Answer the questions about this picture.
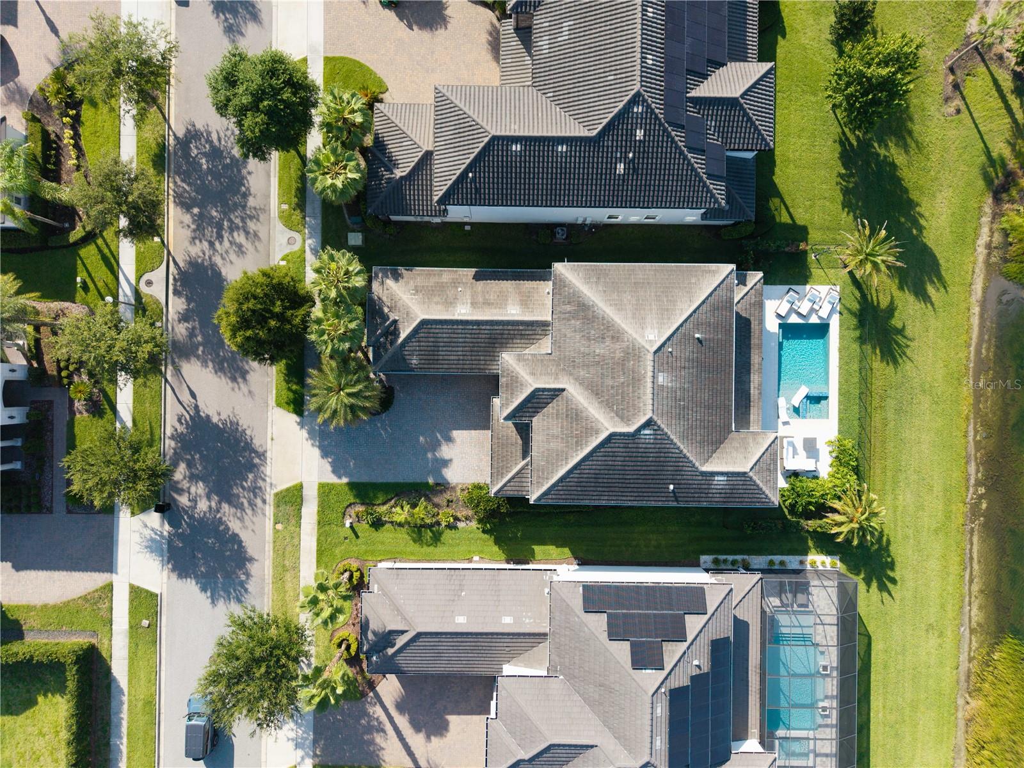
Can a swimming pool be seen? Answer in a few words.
Yes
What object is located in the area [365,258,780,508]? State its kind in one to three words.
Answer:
house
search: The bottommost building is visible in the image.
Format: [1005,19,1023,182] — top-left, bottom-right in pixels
[360,564,778,768]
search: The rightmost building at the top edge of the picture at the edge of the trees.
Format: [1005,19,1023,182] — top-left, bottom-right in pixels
[366,0,776,226]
